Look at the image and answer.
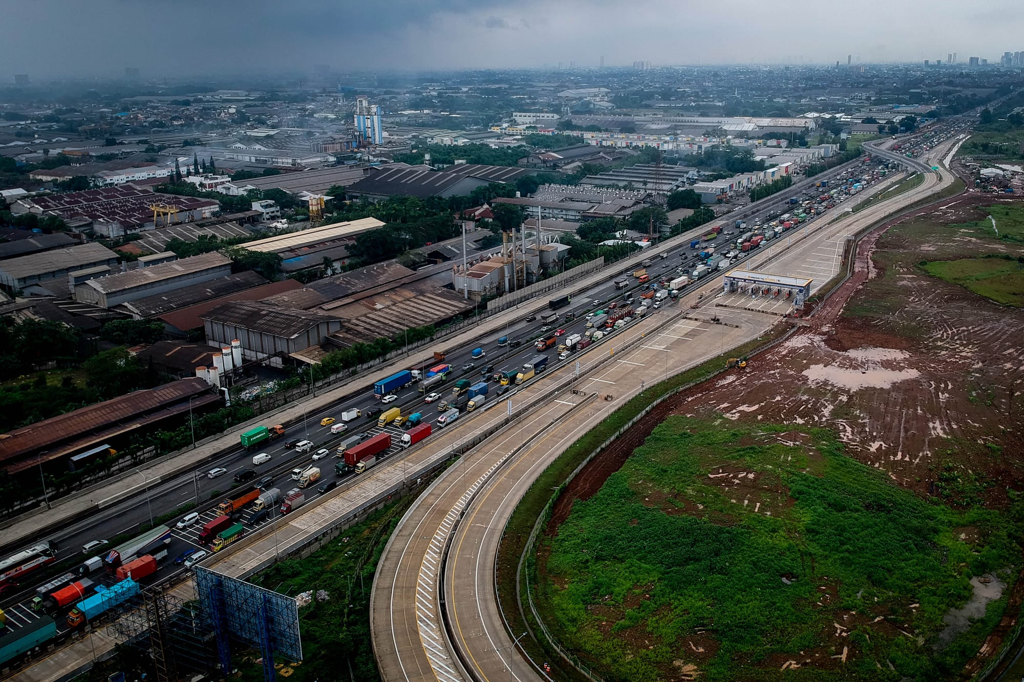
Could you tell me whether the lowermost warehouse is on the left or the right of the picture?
left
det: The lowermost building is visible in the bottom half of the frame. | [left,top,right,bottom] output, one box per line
[0,371,225,501]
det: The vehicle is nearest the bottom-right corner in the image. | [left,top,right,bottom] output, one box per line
[713,353,741,369]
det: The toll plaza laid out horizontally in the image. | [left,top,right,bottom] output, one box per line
[724,267,818,306]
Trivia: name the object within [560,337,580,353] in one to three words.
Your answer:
vehicle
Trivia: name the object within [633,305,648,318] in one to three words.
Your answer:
vehicle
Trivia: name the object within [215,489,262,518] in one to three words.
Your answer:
truck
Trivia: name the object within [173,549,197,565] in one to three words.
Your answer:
car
